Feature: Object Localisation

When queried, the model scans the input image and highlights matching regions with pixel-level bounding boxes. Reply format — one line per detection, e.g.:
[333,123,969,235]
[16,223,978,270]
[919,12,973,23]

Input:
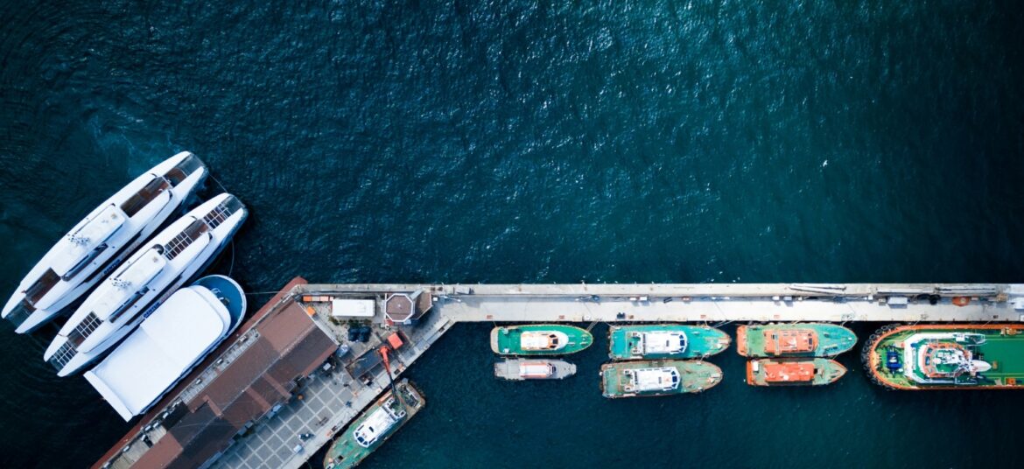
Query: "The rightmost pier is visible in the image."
[305,281,1024,323]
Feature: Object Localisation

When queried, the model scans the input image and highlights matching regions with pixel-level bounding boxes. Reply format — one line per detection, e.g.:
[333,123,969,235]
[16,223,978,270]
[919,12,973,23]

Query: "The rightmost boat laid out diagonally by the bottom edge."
[323,380,425,469]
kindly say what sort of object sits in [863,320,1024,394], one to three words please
boat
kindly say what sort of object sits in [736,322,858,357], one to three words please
boat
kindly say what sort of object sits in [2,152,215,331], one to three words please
ship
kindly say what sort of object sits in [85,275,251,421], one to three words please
ship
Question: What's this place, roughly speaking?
port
